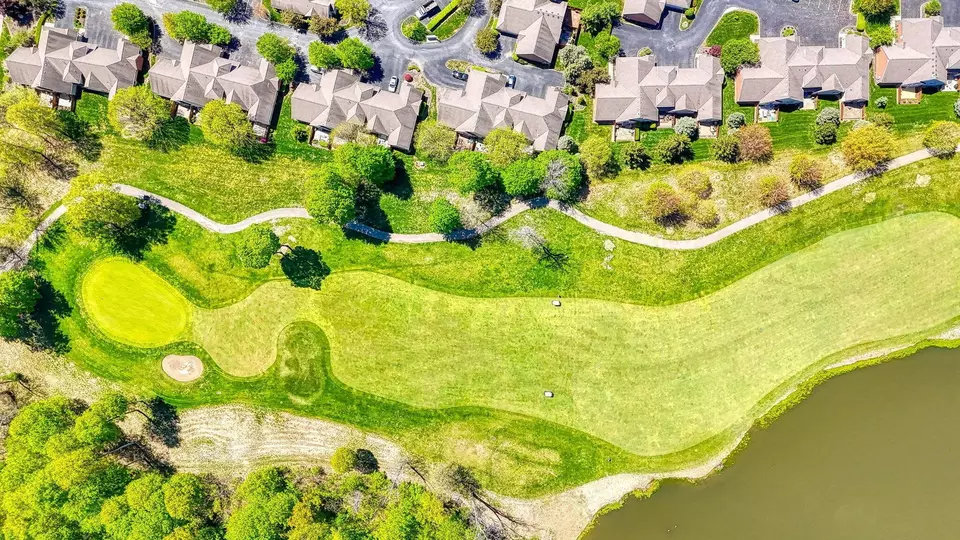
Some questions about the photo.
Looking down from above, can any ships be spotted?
No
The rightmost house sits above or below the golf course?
above it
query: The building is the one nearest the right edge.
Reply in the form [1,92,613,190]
[876,13,960,107]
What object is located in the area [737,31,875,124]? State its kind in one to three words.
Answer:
house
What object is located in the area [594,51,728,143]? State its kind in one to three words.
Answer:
house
